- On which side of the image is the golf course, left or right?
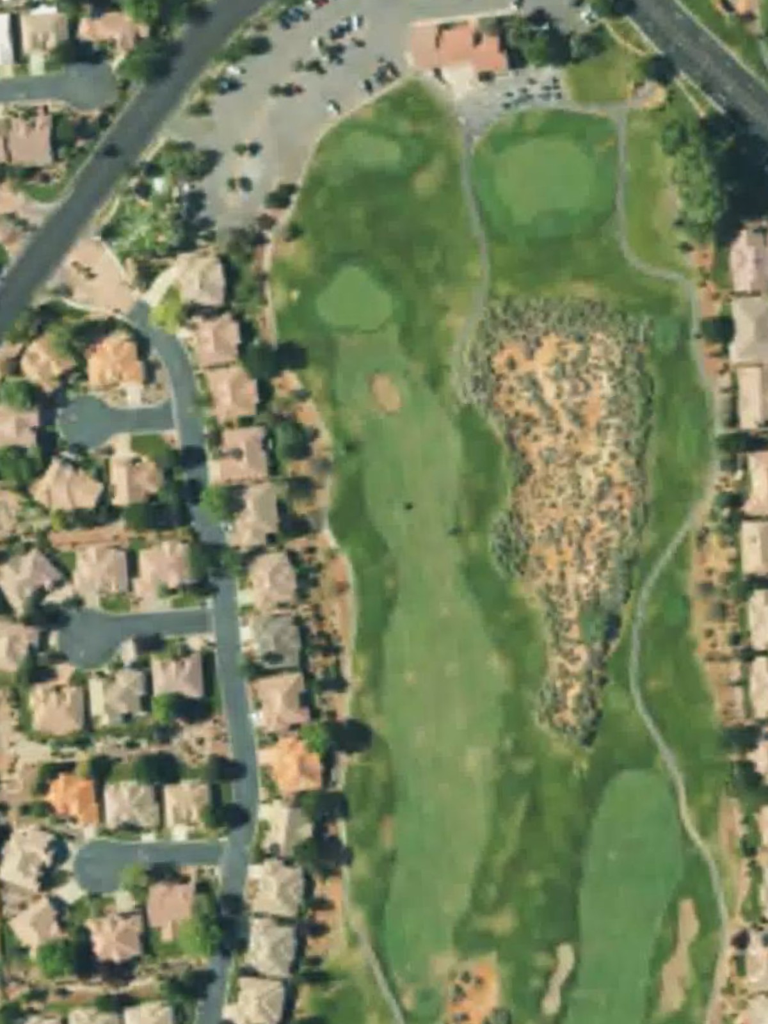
right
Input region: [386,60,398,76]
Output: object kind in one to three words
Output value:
vehicle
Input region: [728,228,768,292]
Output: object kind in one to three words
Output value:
house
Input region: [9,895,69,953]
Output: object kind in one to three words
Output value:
house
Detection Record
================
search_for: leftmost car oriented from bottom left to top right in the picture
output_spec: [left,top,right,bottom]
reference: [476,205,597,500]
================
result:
[106,143,119,158]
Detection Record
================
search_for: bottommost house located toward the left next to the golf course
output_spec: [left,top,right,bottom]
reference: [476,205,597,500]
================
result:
[222,978,285,1024]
